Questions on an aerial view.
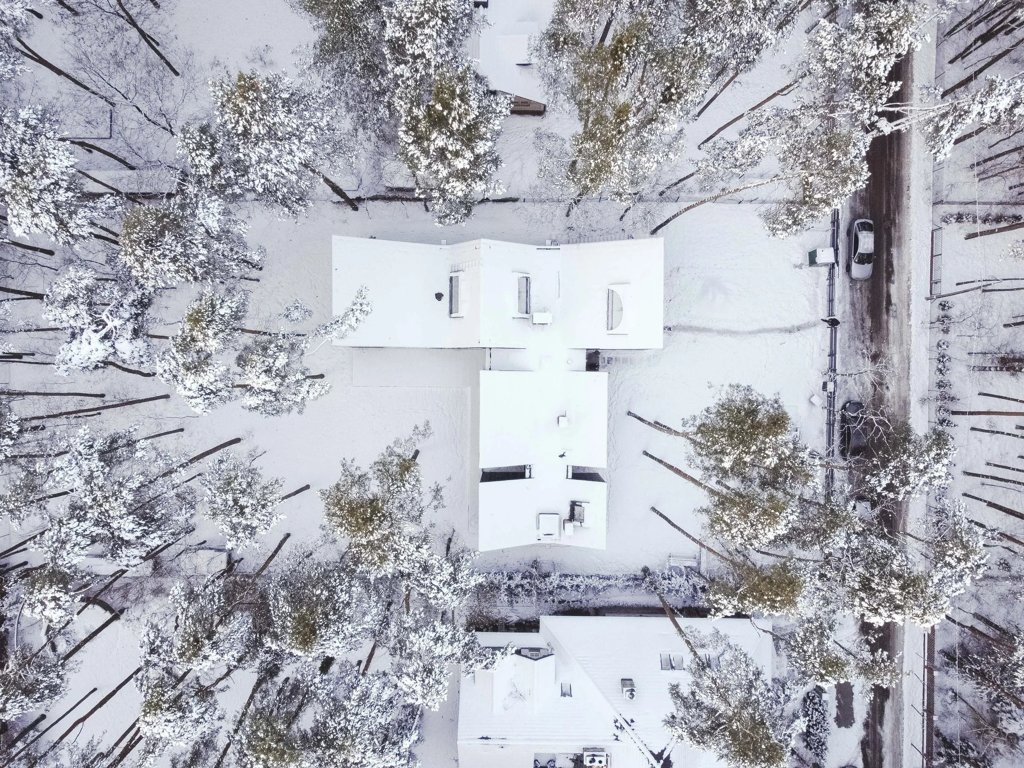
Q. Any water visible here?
No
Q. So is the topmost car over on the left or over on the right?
right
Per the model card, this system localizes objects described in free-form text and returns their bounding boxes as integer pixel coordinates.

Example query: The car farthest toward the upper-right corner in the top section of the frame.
[845,220,878,283]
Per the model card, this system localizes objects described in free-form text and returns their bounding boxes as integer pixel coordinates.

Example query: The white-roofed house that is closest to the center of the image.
[330,236,663,550]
